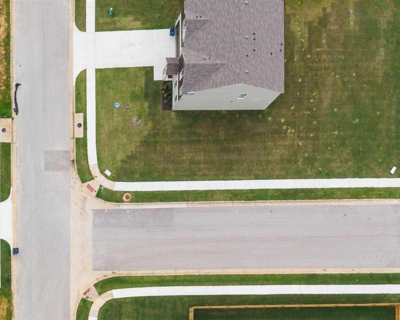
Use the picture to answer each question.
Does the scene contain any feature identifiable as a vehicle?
No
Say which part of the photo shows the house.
top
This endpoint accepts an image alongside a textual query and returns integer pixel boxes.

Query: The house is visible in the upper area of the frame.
[161,0,283,109]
